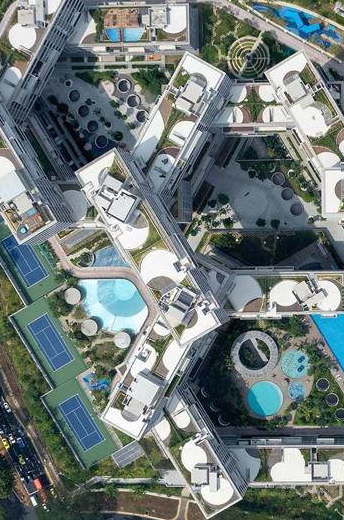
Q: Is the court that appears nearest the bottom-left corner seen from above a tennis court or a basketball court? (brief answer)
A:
tennis court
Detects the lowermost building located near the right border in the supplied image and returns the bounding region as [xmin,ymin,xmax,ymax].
[218,435,344,485]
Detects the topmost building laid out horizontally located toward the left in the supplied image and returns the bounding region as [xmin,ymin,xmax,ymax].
[54,4,196,62]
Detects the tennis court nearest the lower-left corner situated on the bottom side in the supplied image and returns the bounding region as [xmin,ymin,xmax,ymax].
[37,378,121,472]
